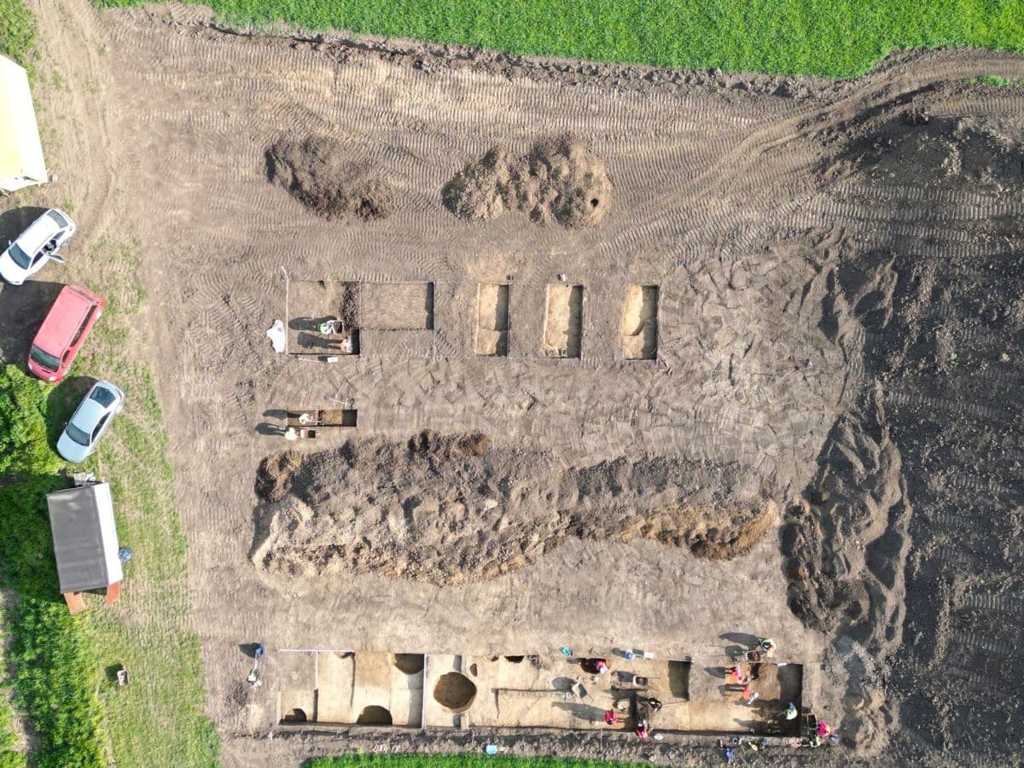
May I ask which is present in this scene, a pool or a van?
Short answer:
van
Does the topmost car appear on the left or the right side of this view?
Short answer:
left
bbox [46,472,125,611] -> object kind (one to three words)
trailer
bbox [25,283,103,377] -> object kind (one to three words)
van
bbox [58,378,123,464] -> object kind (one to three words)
car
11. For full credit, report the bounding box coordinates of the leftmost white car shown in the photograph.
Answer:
[0,203,74,281]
